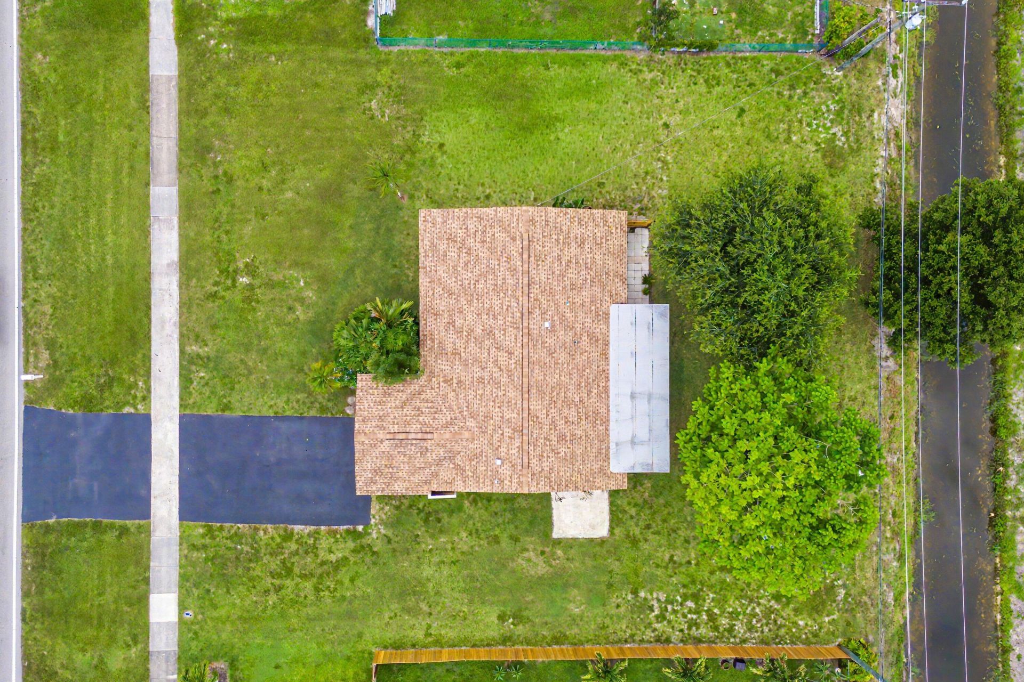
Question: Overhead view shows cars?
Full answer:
No, there isn't any car down there.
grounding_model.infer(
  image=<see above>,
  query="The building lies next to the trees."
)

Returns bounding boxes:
[354,206,628,496]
